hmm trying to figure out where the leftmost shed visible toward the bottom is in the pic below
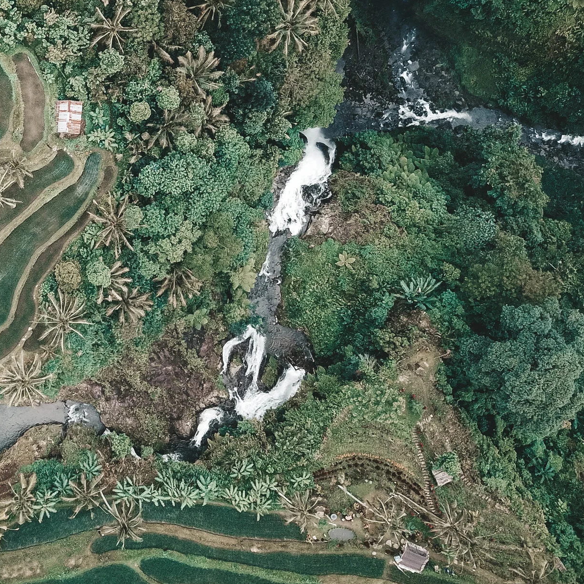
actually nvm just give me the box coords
[398,541,428,570]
